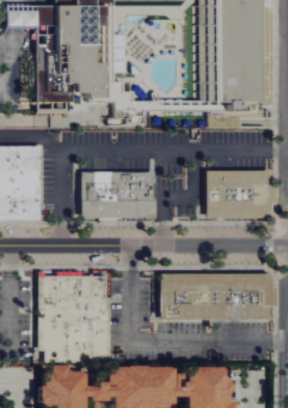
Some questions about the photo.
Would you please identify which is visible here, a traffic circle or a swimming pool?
swimming pool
